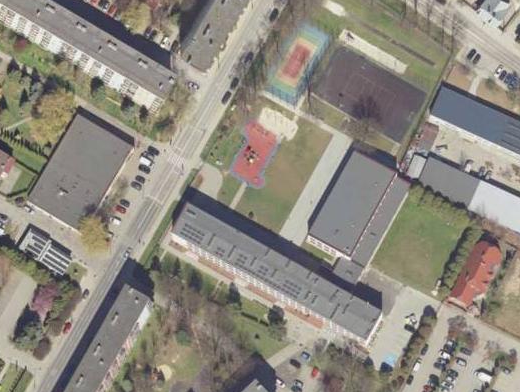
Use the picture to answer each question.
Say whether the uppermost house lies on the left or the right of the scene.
right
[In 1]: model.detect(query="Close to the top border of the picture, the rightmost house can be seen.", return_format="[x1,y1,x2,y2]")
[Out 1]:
[477,0,511,29]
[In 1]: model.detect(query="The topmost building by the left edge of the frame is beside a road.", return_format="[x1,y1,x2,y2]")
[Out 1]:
[0,0,178,111]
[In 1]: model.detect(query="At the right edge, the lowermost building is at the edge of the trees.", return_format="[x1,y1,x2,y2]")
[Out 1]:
[448,240,506,315]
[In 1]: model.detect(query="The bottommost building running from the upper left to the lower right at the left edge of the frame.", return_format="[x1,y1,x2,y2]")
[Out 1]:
[19,230,73,278]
